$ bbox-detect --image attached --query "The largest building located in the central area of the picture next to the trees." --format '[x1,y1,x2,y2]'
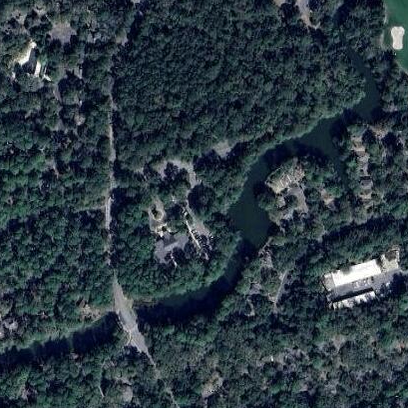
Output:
[148,230,183,259]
